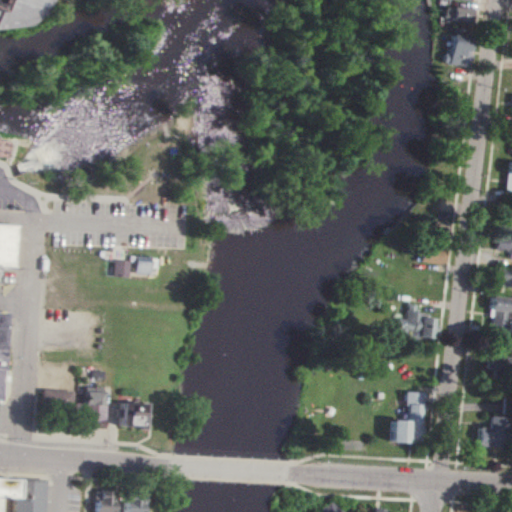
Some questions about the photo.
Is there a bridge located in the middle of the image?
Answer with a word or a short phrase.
No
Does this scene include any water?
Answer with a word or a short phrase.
Yes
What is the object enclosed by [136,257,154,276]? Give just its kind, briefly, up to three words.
building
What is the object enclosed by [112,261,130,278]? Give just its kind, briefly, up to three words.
building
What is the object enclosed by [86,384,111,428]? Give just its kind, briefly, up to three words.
house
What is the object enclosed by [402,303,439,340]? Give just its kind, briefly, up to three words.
house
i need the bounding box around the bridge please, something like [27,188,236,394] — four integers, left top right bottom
[188,456,292,486]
